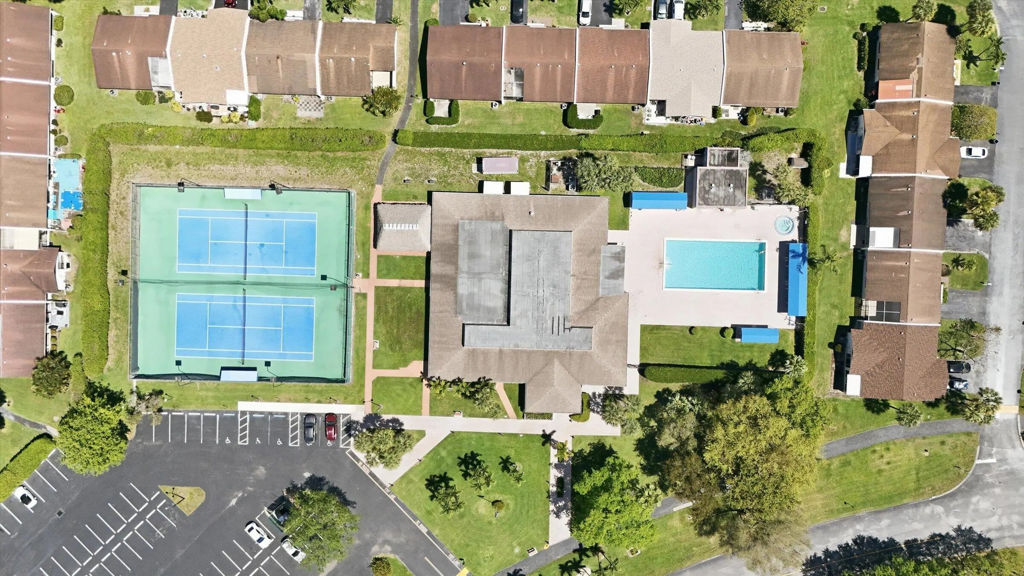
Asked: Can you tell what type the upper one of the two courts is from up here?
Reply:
tennis court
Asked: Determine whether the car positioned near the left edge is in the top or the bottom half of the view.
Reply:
bottom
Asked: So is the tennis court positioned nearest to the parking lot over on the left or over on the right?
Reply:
left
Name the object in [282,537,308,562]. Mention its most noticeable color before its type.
white car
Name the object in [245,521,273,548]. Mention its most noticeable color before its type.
white car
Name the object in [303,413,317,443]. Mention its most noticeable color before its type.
gray car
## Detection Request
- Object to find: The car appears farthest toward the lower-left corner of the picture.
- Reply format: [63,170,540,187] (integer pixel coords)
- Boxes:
[14,484,40,510]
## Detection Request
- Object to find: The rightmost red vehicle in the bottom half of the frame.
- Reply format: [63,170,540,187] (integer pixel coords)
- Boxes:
[323,412,338,442]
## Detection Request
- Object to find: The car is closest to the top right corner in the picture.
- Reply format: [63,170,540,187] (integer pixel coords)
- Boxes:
[960,145,988,159]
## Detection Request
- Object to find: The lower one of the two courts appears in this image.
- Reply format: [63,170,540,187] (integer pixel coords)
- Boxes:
[139,282,353,380]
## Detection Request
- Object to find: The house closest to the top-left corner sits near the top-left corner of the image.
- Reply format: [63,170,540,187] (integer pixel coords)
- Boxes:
[0,2,65,90]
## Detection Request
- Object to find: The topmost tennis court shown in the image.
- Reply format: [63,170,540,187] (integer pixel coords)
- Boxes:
[141,186,353,287]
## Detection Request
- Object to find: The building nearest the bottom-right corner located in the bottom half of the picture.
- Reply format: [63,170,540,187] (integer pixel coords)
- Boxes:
[839,323,957,400]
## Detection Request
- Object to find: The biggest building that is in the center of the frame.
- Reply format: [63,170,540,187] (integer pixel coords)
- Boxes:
[428,192,628,413]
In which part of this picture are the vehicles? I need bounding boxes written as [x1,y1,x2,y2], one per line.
[245,521,273,548]
[14,484,40,510]
[282,537,308,562]
[960,145,988,159]
[655,0,669,20]
[947,377,969,390]
[672,0,686,20]
[225,0,238,9]
[323,412,338,442]
[303,413,317,443]
[579,0,593,27]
